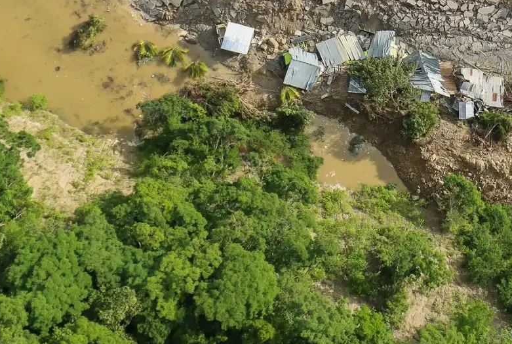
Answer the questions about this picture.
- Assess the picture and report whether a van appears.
No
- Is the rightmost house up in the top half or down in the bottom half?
top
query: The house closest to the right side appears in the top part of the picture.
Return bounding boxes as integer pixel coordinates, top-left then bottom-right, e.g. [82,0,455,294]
[458,68,504,110]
